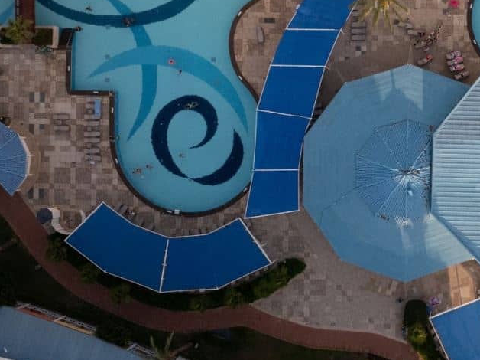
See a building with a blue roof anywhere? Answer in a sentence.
Yes, there's a building with a blue roof here.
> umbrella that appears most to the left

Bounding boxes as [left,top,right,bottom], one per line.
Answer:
[36,207,54,224]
